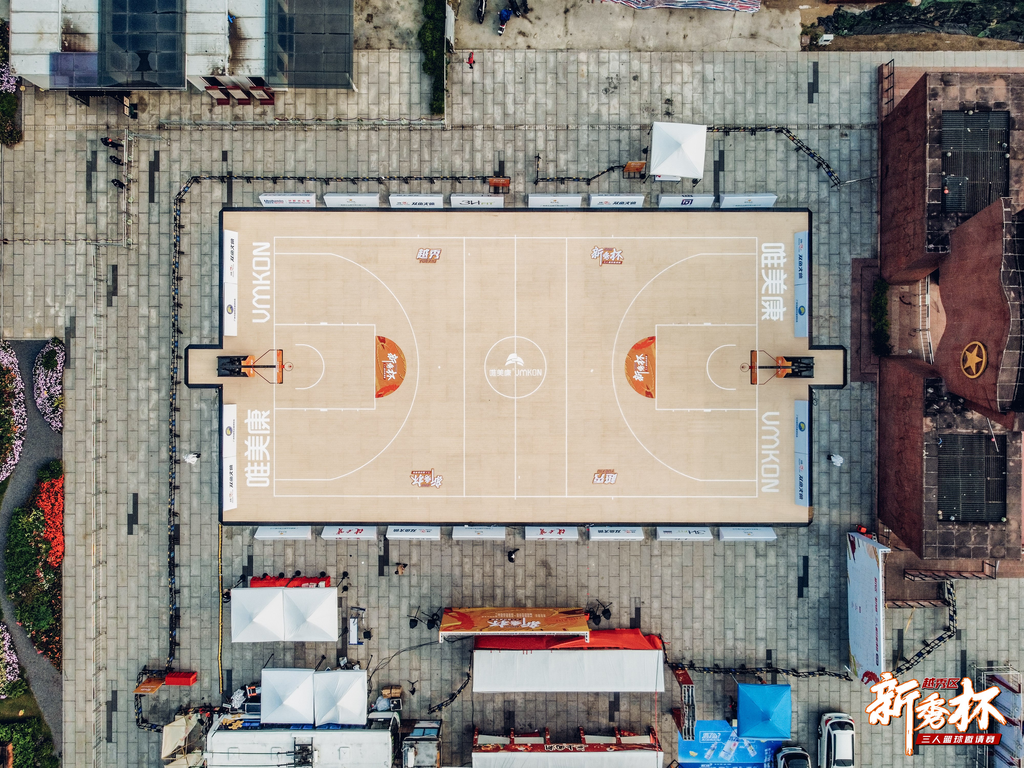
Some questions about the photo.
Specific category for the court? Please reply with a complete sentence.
Looking closely, the court is a basketball court.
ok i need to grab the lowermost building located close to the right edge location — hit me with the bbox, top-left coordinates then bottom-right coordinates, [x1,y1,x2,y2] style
[881,358,1024,559]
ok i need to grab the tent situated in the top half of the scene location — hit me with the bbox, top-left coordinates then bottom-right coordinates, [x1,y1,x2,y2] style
[643,122,707,187]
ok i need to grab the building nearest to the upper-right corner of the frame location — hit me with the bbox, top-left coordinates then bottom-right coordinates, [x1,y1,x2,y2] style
[882,72,1024,284]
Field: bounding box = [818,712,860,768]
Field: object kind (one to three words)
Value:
car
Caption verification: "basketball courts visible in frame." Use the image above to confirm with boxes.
[184,207,847,526]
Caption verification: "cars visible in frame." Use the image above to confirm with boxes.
[775,743,811,768]
[818,712,860,768]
